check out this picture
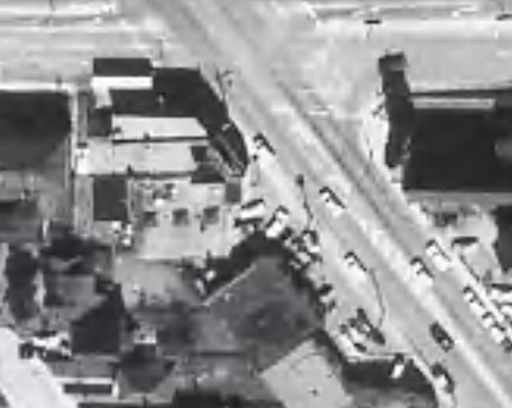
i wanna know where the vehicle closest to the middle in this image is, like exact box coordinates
[238,203,268,219]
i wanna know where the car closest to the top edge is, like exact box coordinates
[252,132,276,158]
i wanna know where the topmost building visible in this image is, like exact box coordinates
[90,77,153,110]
